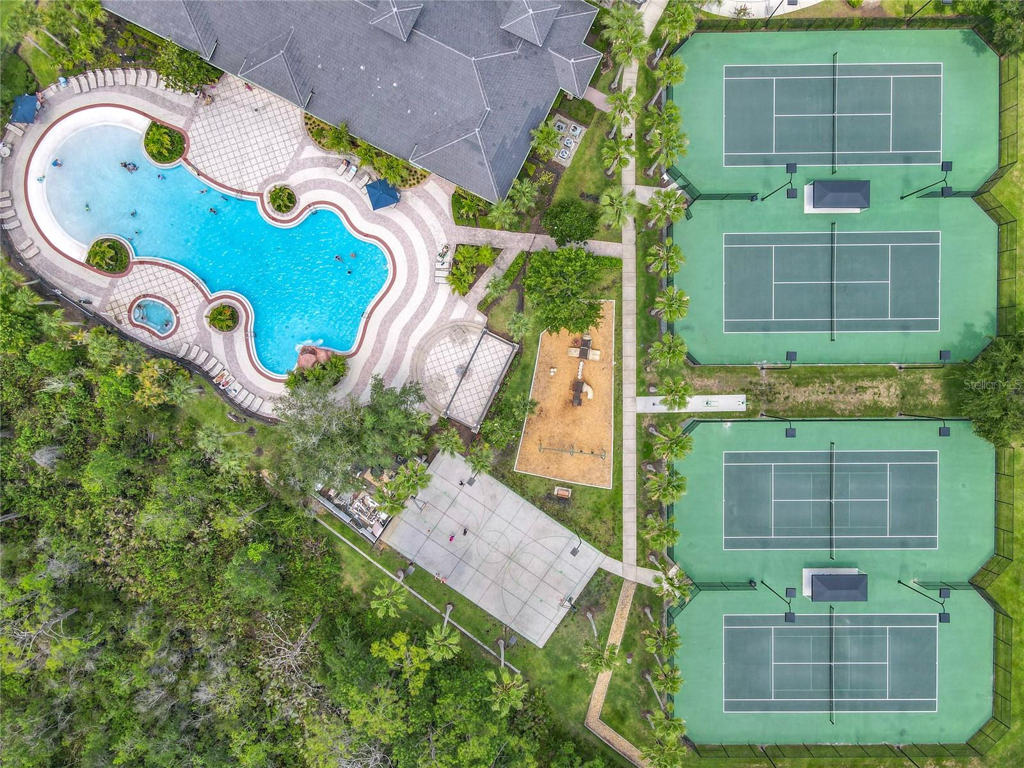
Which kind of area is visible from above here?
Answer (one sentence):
It's a sports ground.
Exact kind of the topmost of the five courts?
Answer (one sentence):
Looking closely, the topmost of the five courts is a tennis court.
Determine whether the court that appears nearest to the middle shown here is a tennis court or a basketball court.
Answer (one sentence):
In the photo, the court that appears nearest to the middle shows up as a basketball court.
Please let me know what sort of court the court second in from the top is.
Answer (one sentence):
Looking closely, the court second in from the top is a tennis court.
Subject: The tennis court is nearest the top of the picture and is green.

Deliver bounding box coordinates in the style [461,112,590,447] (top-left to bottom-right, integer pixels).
[673,30,999,197]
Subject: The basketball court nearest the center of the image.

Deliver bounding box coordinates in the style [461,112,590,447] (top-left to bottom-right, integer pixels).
[380,450,599,648]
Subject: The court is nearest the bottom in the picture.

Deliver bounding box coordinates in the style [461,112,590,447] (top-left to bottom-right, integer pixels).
[673,581,994,745]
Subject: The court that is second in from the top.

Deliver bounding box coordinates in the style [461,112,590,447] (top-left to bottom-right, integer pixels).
[673,195,999,365]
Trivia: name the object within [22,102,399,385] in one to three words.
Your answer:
swimming pool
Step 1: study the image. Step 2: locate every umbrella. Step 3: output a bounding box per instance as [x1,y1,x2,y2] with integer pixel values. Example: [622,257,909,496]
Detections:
[366,179,400,211]
[12,96,44,124]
